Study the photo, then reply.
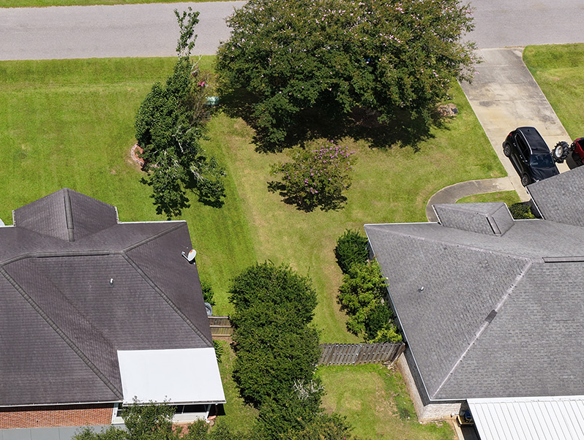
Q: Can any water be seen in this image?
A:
No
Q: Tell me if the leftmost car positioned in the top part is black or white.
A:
black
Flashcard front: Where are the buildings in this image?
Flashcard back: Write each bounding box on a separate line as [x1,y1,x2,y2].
[365,163,584,424]
[0,187,224,434]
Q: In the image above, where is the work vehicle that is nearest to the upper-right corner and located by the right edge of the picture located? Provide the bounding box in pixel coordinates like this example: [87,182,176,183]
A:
[555,122,584,159]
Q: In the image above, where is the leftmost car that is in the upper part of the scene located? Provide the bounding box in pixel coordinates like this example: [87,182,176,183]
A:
[506,127,567,187]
